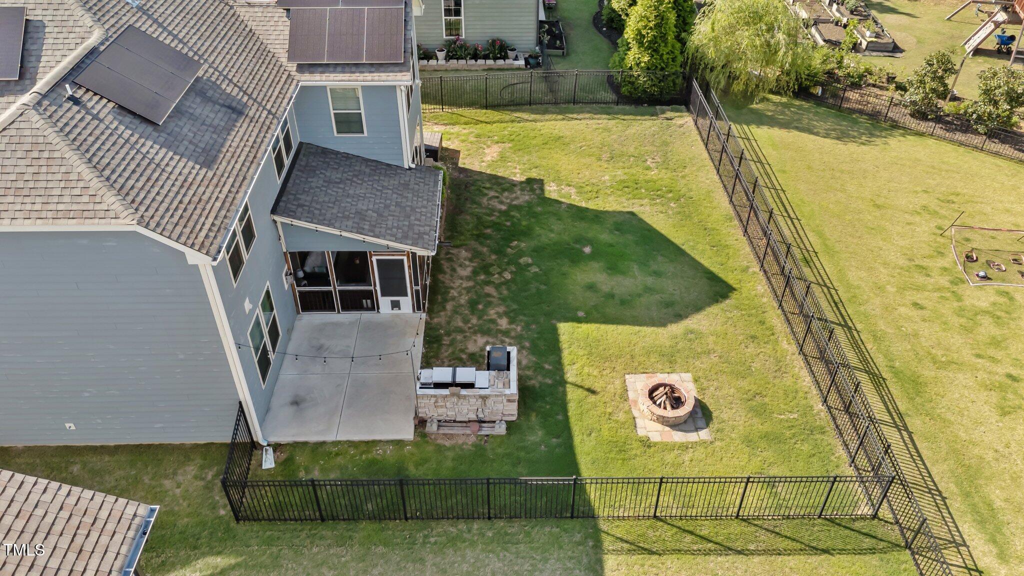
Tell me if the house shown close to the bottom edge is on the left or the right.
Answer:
left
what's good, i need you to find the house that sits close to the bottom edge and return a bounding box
[0,470,159,576]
